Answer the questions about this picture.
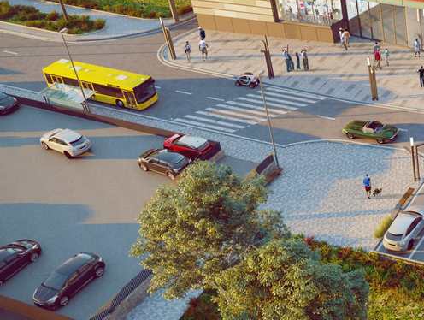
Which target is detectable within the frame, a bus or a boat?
bus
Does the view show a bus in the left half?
Yes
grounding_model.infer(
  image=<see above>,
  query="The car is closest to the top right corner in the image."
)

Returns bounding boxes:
[341,115,400,139]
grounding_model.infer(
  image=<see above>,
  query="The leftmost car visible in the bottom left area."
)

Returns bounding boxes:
[0,238,43,272]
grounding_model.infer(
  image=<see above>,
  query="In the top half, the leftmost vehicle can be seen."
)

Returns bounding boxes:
[0,84,20,112]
